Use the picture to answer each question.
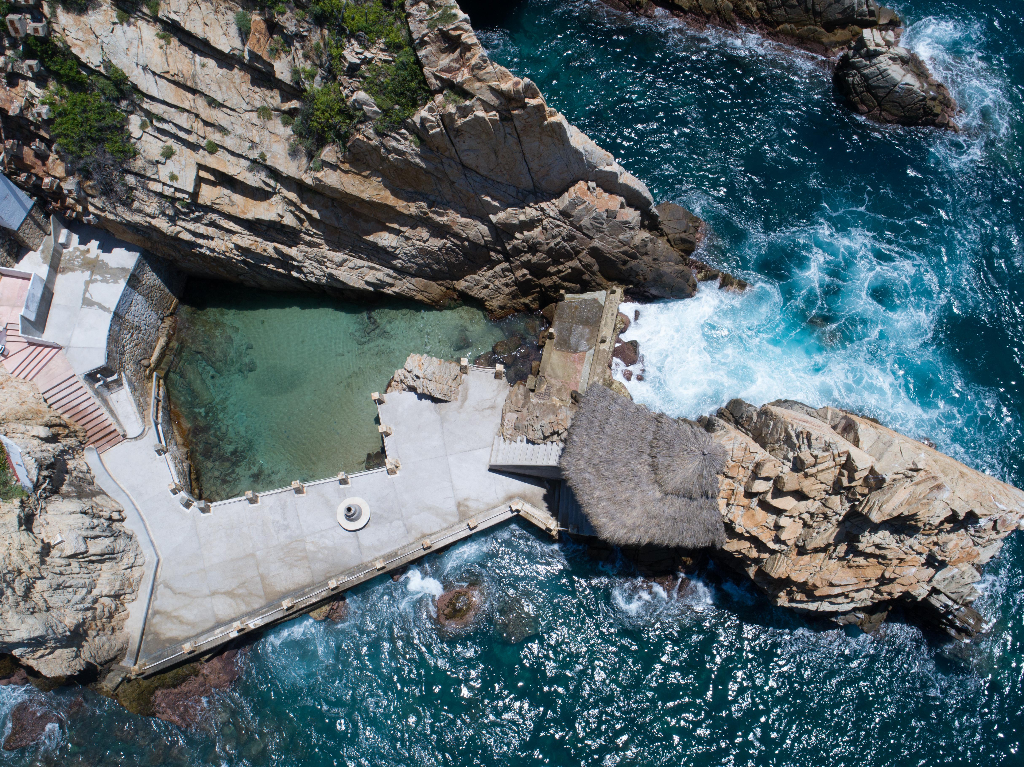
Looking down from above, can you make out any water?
Yes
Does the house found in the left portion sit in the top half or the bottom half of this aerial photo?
top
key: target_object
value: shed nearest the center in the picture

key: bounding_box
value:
[559,384,727,548]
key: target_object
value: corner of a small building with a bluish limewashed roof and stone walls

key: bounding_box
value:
[0,174,84,277]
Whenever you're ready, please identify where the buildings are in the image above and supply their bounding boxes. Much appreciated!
[0,174,84,277]
[559,384,727,548]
